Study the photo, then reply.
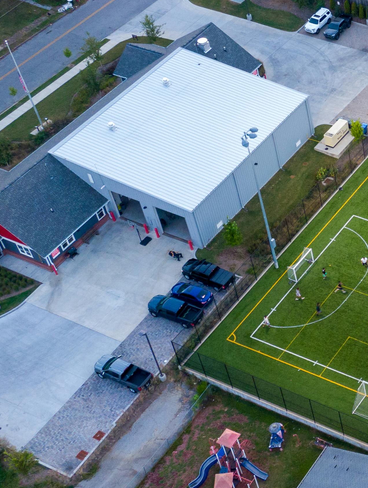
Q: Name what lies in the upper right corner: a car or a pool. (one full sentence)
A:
Looking in the upper right corner, you will find a car.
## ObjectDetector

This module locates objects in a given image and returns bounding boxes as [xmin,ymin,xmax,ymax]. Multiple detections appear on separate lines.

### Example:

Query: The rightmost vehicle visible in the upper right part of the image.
[325,12,350,38]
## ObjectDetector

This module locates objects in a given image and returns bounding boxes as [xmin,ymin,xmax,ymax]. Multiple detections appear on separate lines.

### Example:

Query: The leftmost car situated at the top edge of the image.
[308,8,331,31]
